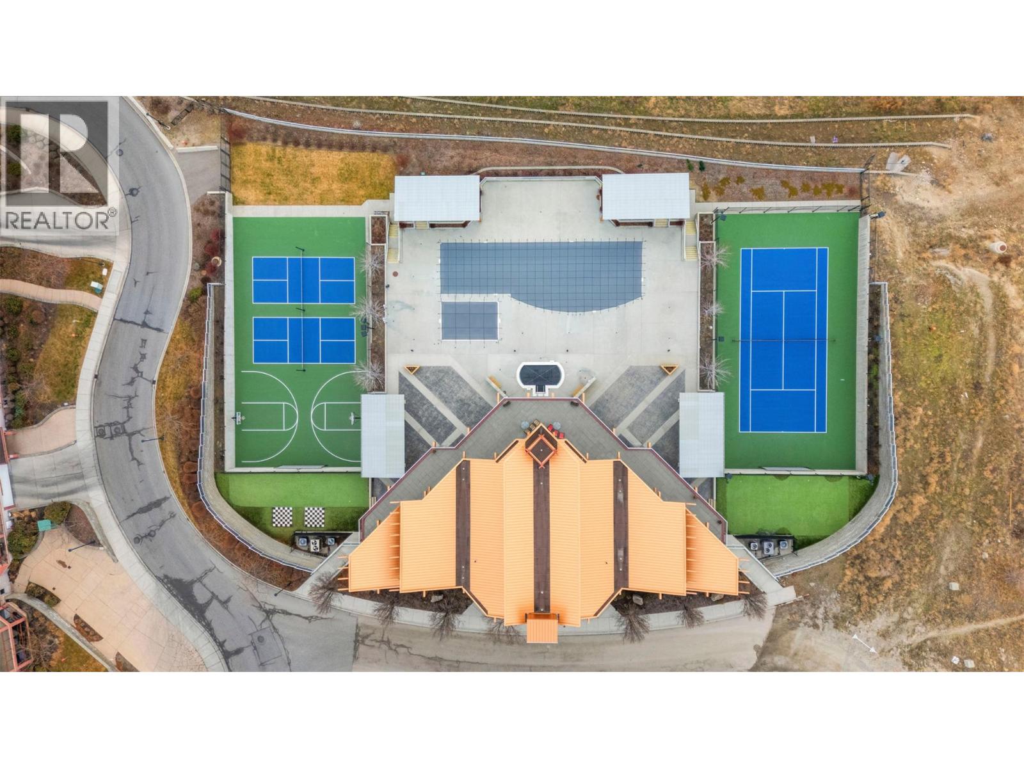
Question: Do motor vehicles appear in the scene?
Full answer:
No, there appears to be no motor vehicle in this shot.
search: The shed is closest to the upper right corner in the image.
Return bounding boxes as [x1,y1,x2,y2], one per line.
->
[599,173,690,226]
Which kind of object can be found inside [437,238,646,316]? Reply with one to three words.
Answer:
swimming pool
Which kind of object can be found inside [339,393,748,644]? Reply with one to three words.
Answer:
building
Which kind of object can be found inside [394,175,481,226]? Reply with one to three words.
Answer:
shed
